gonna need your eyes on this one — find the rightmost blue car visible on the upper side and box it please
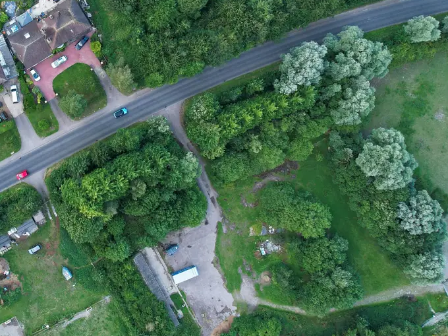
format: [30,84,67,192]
[112,106,129,119]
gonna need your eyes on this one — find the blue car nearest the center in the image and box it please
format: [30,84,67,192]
[164,242,181,257]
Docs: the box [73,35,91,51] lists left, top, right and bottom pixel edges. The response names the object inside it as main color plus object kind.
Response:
blue car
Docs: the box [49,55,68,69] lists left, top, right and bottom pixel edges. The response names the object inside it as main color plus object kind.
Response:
white car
